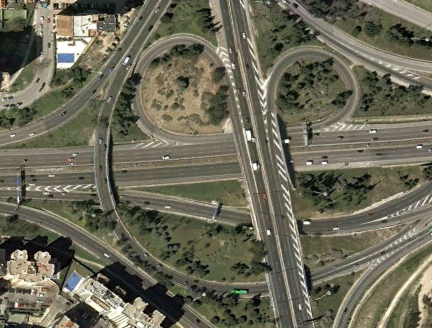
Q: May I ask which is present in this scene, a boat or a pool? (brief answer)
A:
pool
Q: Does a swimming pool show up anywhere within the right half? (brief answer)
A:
No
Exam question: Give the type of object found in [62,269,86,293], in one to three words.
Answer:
swimming pool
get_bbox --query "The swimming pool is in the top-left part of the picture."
[56,39,95,68]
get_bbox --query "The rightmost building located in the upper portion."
[49,14,116,41]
